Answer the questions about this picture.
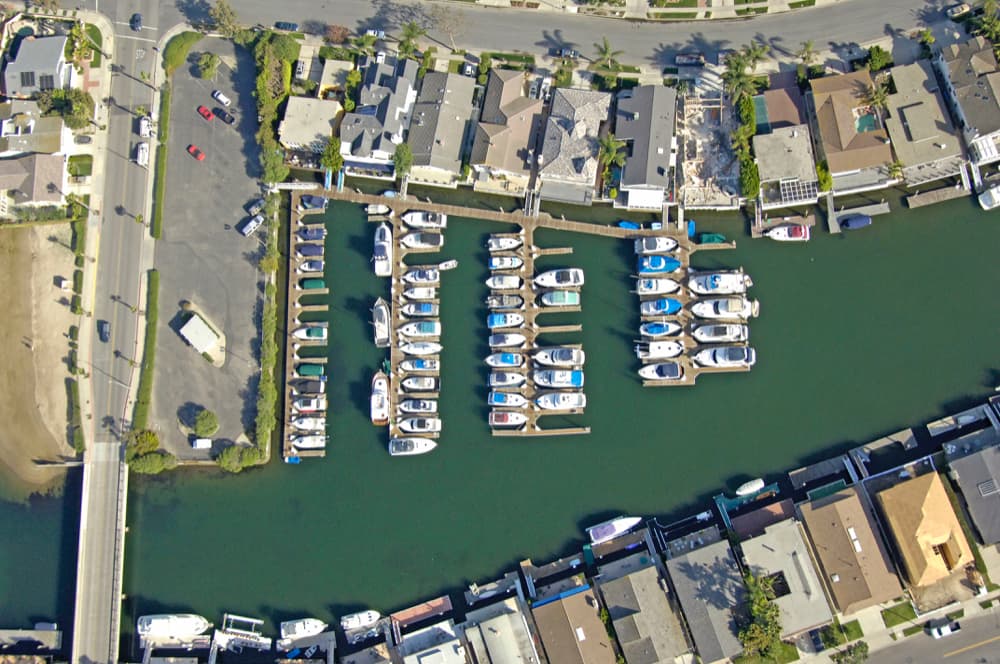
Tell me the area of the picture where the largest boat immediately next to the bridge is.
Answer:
bottom left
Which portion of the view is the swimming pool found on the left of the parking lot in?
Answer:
top left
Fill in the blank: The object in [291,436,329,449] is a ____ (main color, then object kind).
white boat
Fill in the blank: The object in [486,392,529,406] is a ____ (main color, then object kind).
white boat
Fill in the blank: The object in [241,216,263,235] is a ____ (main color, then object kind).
white vehicle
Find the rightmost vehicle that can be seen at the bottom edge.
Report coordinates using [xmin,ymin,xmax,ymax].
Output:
[930,621,958,636]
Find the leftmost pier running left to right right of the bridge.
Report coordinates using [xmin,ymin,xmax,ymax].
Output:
[141,635,211,648]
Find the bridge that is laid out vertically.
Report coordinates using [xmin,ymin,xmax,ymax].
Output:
[71,441,131,664]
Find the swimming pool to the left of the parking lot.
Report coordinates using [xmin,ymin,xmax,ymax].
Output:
[10,26,34,60]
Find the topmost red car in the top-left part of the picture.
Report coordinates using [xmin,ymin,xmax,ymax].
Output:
[196,104,213,120]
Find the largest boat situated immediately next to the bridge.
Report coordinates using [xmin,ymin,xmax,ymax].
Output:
[134,617,209,640]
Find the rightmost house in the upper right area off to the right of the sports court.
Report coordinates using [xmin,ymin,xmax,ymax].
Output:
[933,35,1000,165]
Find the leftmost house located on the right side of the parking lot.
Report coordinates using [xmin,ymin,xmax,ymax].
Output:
[279,60,354,156]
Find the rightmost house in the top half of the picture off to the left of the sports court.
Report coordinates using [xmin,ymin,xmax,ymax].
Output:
[612,87,677,209]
